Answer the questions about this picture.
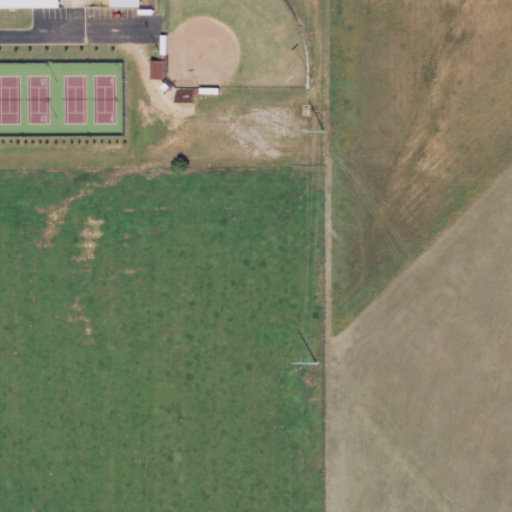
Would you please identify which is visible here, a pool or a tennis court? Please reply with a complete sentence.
It is a tennis court that can be seen here.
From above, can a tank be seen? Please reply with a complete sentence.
No, I can see no tank in this picture.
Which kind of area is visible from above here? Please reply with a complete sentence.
The picture captures farmland.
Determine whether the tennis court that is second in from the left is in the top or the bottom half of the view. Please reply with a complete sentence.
The top half of the photo is where the tennis court that is second in from the left is.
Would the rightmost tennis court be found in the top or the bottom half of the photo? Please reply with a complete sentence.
The rightmost tennis court is in the top half of the image.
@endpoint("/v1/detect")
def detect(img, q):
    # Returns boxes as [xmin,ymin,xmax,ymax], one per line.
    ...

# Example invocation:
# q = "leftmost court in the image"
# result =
[0,76,20,124]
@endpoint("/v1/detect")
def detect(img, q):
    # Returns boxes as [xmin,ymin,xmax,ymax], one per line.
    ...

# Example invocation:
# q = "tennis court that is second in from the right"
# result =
[62,76,87,124]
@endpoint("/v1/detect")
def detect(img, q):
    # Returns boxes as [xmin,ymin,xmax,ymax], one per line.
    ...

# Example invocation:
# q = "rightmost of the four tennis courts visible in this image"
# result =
[91,76,116,124]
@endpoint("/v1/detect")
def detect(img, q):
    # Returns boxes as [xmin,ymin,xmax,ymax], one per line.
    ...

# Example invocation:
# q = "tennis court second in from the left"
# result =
[24,76,50,124]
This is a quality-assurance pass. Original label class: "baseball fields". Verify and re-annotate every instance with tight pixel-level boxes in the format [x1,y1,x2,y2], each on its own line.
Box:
[167,0,310,88]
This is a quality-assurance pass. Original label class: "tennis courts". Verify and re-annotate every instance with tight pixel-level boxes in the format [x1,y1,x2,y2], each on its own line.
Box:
[91,76,116,124]
[0,76,20,124]
[24,76,50,124]
[62,76,87,124]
